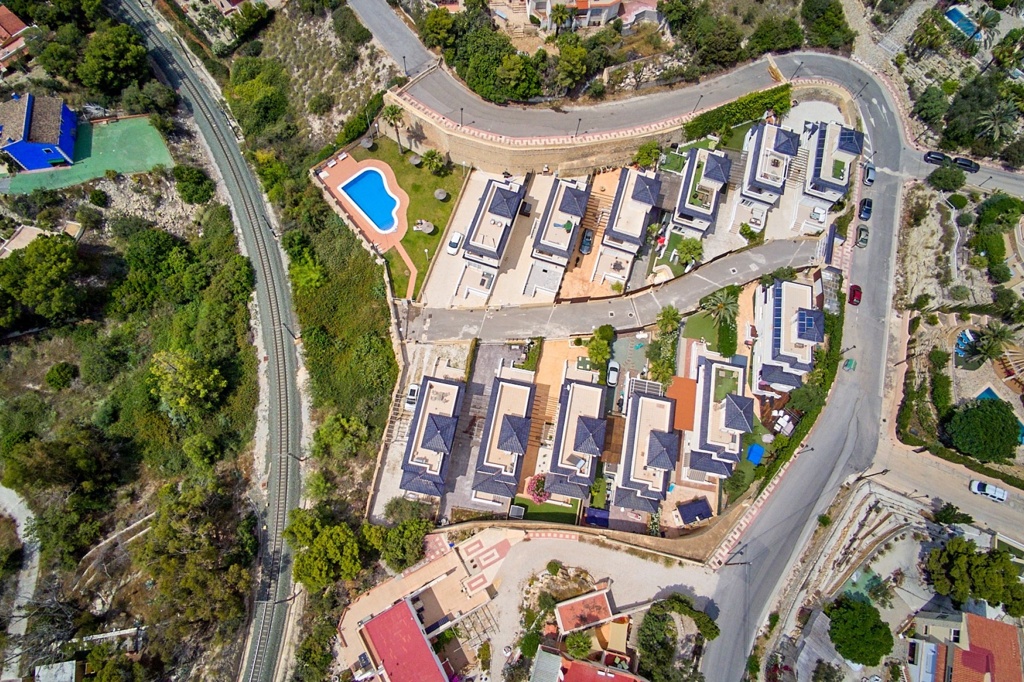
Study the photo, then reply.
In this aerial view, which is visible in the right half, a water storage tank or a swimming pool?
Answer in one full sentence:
What appears in the right half is a swimming pool.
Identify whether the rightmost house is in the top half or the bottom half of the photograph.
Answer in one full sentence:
It is in the bottom half that the rightmost house appears.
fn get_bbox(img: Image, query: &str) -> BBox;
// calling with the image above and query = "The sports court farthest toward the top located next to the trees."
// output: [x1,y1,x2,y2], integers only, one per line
[0,115,176,194]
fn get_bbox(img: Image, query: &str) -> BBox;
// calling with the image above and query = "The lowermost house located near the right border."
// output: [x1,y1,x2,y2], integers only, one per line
[890,611,1024,682]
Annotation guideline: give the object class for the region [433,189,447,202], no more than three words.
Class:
umbrella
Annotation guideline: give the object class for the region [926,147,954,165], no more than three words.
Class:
car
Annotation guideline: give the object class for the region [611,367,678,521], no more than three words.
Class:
house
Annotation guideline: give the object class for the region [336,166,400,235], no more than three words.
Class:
swimming pool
